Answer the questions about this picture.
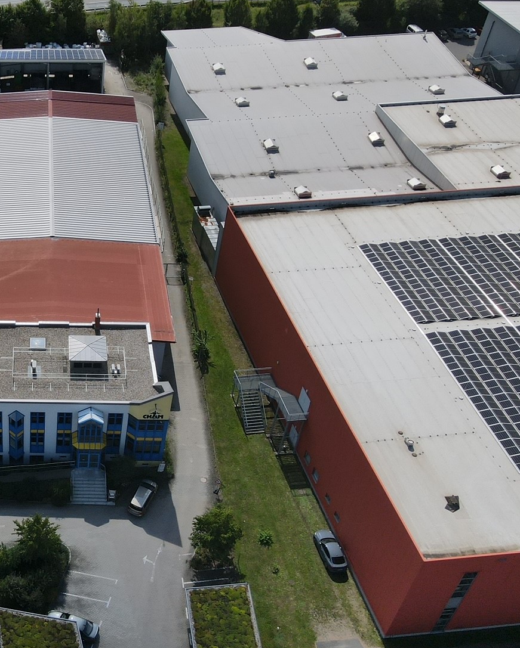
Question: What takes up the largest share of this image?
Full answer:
Most of the picture is covered by buildings.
